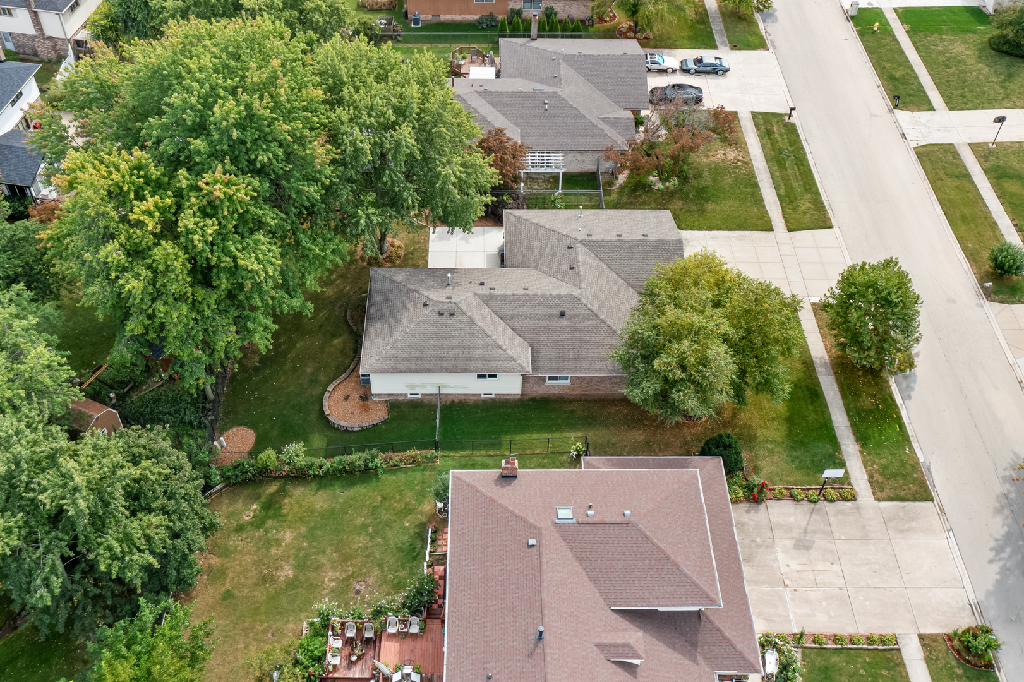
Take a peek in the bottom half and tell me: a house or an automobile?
house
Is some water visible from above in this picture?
No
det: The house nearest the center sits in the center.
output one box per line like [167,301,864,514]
[359,206,684,399]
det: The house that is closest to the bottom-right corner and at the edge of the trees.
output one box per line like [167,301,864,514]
[444,452,766,682]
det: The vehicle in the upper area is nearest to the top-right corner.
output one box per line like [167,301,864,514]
[679,54,731,76]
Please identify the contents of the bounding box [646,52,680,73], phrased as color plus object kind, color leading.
white car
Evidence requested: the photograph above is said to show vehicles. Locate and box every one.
[646,52,680,73]
[679,54,731,76]
[649,80,704,105]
